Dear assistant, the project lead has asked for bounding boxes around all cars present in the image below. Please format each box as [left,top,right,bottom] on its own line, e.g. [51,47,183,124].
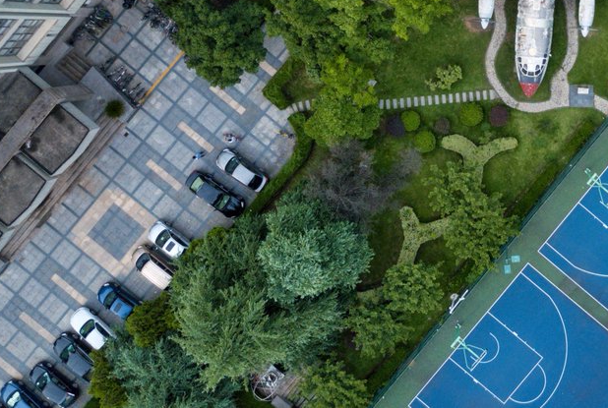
[144,218,197,269]
[213,145,269,197]
[68,305,123,358]
[129,244,182,299]
[187,168,245,219]
[51,332,104,385]
[95,278,149,330]
[30,361,83,408]
[0,379,51,408]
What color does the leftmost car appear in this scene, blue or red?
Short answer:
blue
